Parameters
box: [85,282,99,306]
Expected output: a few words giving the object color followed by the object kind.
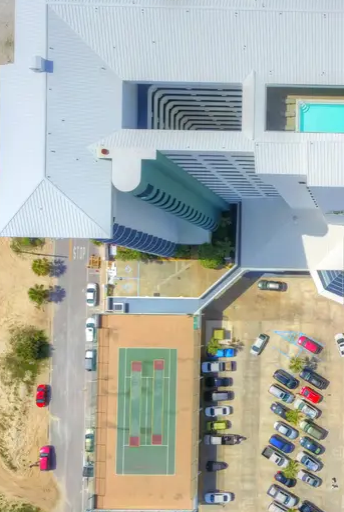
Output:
white vehicle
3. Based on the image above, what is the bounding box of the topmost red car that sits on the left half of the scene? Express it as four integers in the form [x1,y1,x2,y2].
[36,382,49,407]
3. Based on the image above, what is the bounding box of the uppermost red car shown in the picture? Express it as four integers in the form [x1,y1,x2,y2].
[296,334,322,353]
